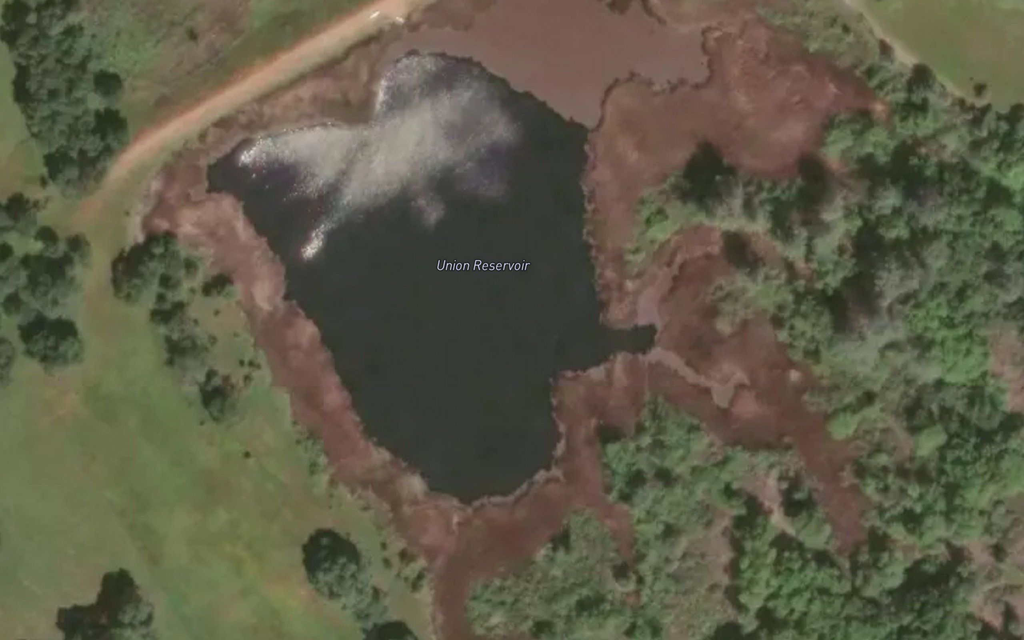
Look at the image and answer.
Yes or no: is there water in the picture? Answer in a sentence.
Yes, the picture does contain water.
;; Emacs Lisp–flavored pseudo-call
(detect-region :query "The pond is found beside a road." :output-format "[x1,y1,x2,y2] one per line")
[381,0,710,133]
